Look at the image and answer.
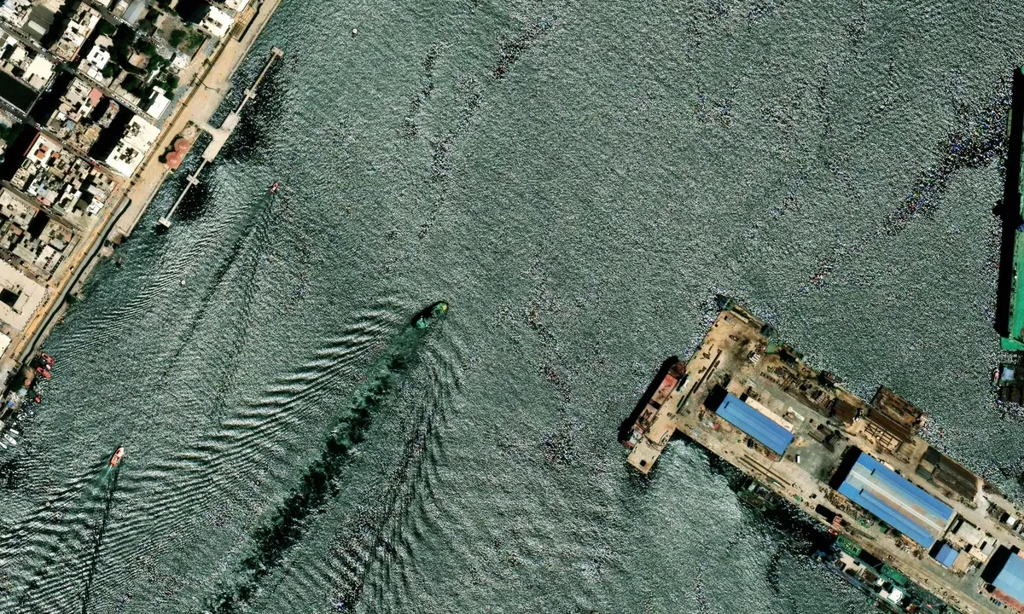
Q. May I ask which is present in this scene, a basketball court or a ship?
ship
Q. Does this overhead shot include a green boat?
Yes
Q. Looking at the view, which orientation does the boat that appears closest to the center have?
on a diagonal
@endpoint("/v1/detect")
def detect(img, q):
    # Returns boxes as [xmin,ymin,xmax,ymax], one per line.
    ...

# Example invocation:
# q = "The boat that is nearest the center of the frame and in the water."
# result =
[415,302,448,330]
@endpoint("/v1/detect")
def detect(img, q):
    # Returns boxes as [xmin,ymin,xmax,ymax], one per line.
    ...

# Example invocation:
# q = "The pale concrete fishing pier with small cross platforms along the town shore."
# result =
[159,47,284,227]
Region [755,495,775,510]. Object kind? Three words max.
boat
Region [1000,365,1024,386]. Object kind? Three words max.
ship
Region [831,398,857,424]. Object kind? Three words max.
shed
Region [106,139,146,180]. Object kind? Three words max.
building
